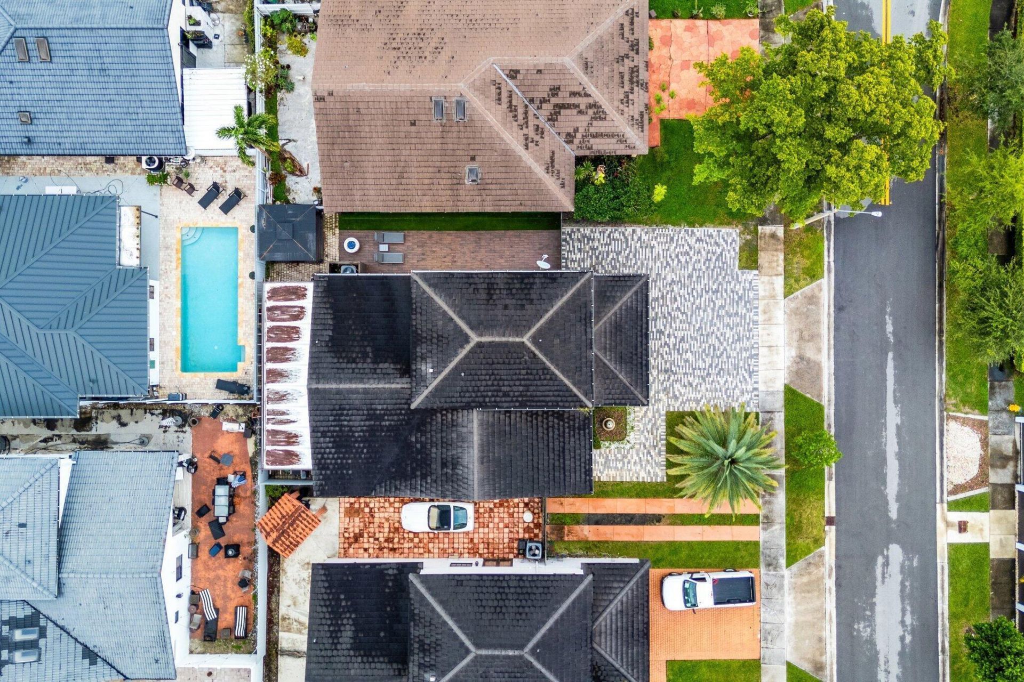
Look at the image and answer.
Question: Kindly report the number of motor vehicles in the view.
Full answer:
The count of motor vehicles comes to 2.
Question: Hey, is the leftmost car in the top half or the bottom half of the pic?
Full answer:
The bottom half of the photo is where the leftmost car is.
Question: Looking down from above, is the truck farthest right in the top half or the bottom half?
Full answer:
The truck farthest right is in the bottom half of the image.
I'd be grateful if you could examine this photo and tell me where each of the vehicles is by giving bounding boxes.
[399,503,473,540]
[663,571,757,616]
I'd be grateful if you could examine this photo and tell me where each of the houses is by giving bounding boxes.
[0,0,188,156]
[312,0,651,213]
[306,554,651,682]
[0,449,191,682]
[306,269,651,502]
[0,193,159,419]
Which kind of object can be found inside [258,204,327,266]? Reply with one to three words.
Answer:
gazebo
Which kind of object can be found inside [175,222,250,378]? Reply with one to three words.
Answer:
swimming pool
